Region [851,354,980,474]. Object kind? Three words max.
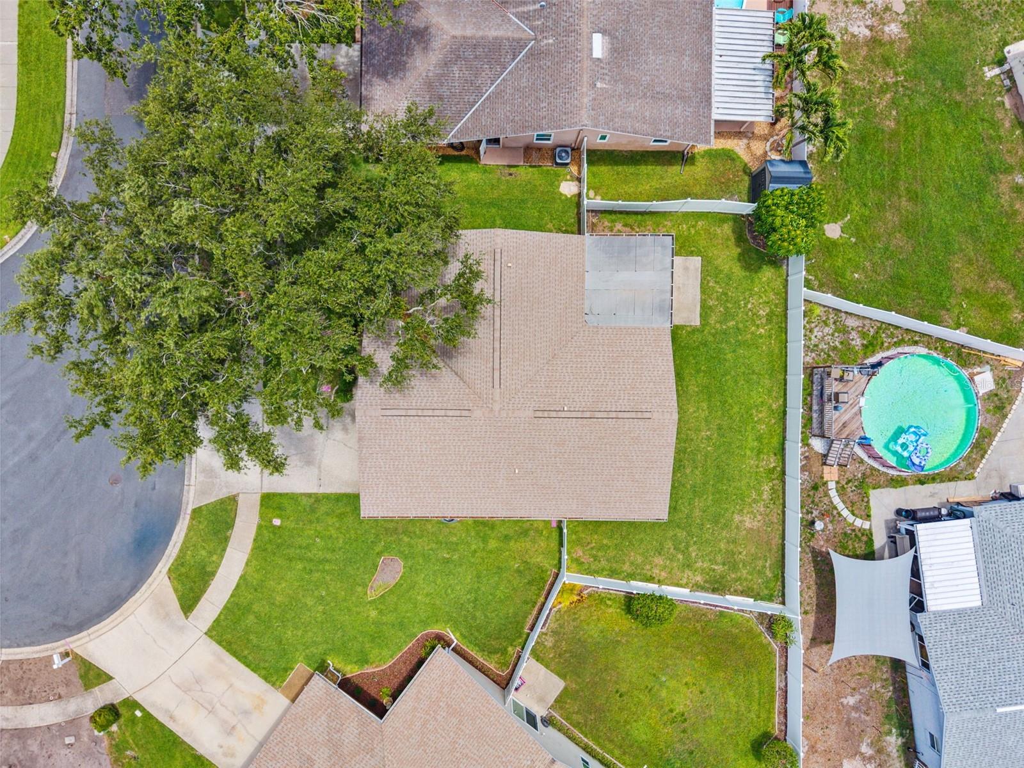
swimming pool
